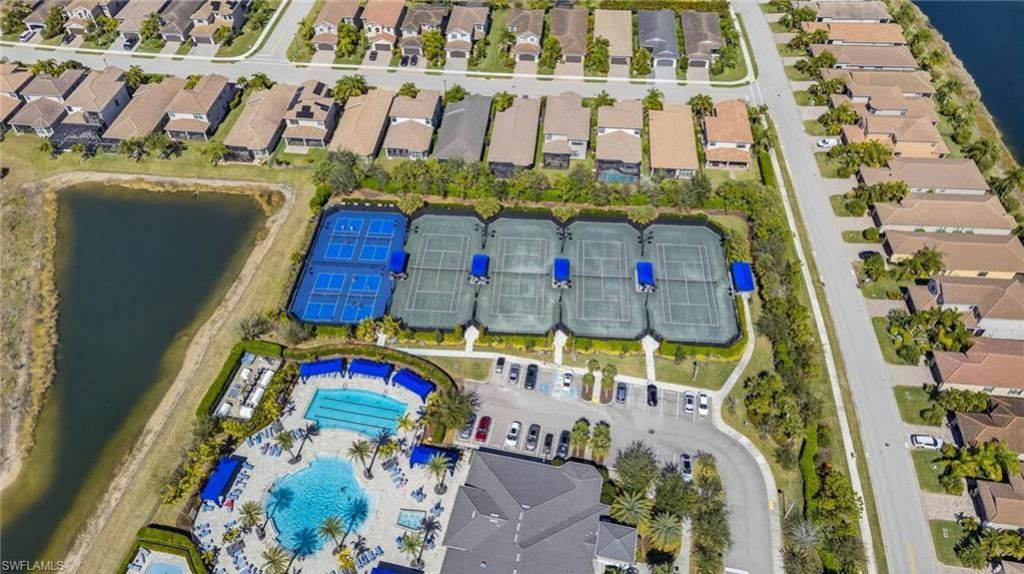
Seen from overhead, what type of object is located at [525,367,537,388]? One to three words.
vehicle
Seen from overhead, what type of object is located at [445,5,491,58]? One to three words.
house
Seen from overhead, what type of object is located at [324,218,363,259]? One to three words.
sports court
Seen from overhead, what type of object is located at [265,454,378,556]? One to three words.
swimming pool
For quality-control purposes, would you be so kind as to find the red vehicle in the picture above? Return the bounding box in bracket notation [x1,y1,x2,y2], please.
[477,417,491,441]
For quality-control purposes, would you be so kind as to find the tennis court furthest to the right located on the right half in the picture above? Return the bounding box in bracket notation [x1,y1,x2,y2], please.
[643,225,738,343]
